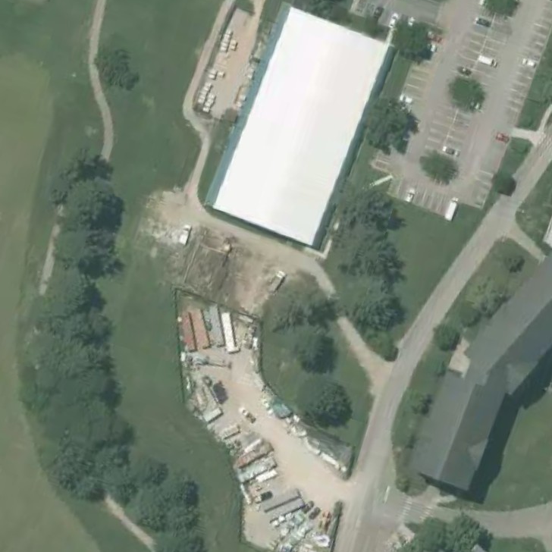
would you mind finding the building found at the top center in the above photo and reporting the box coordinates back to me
[200,6,397,250]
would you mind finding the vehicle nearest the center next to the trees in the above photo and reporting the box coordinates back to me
[269,271,284,290]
